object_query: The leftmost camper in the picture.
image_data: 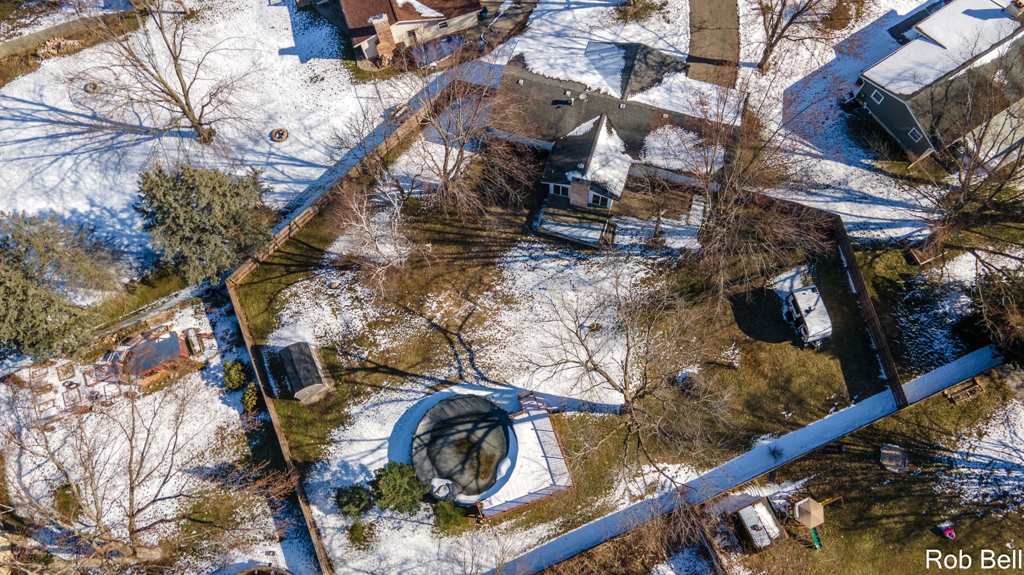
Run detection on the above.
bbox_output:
[784,288,831,359]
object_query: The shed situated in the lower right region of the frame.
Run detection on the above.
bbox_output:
[734,496,789,551]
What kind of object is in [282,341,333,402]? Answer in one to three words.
shed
